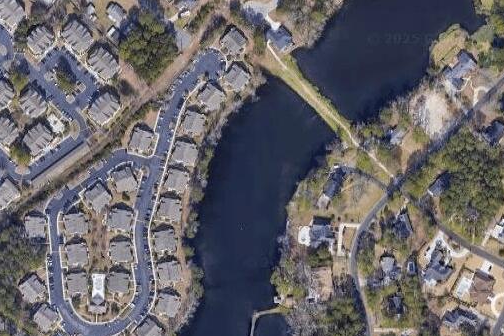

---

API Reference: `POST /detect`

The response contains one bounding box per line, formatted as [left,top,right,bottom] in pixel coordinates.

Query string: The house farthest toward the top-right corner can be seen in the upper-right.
[443,54,478,85]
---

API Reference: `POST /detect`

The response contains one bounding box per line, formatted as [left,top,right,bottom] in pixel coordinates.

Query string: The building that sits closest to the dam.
[268,25,295,52]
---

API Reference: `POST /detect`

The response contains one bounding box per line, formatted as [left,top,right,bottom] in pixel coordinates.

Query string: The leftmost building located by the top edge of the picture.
[0,0,26,27]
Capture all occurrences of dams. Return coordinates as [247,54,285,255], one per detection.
[266,51,358,143]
